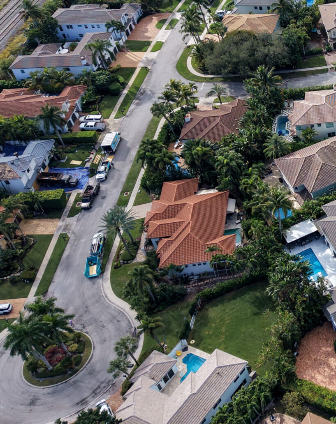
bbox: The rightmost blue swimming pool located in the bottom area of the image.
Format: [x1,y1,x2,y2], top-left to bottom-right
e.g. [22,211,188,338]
[293,246,329,282]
